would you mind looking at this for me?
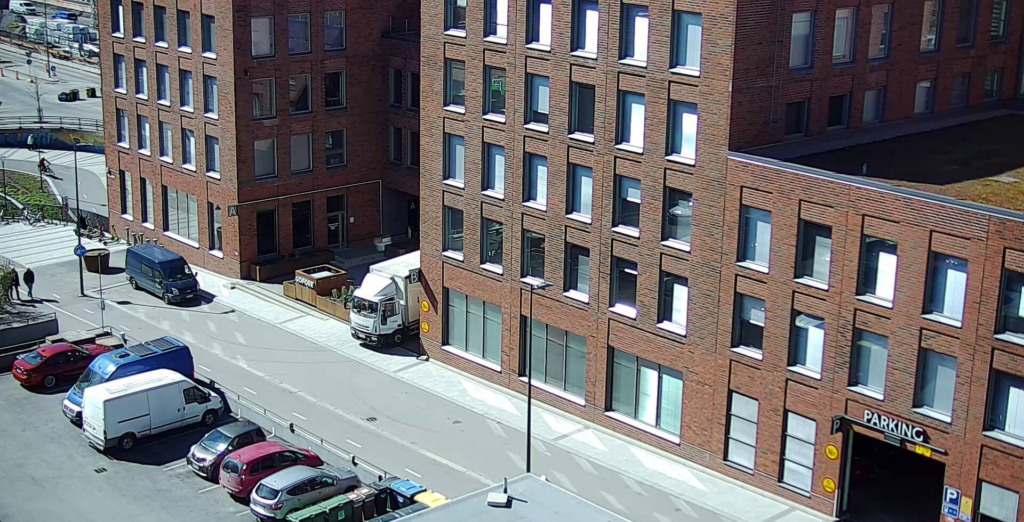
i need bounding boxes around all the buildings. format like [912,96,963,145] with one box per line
[97,0,380,275]
[393,472,637,522]
[419,0,1024,522]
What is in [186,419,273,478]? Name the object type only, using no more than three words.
car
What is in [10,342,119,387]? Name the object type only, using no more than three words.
car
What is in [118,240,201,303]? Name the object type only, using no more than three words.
van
